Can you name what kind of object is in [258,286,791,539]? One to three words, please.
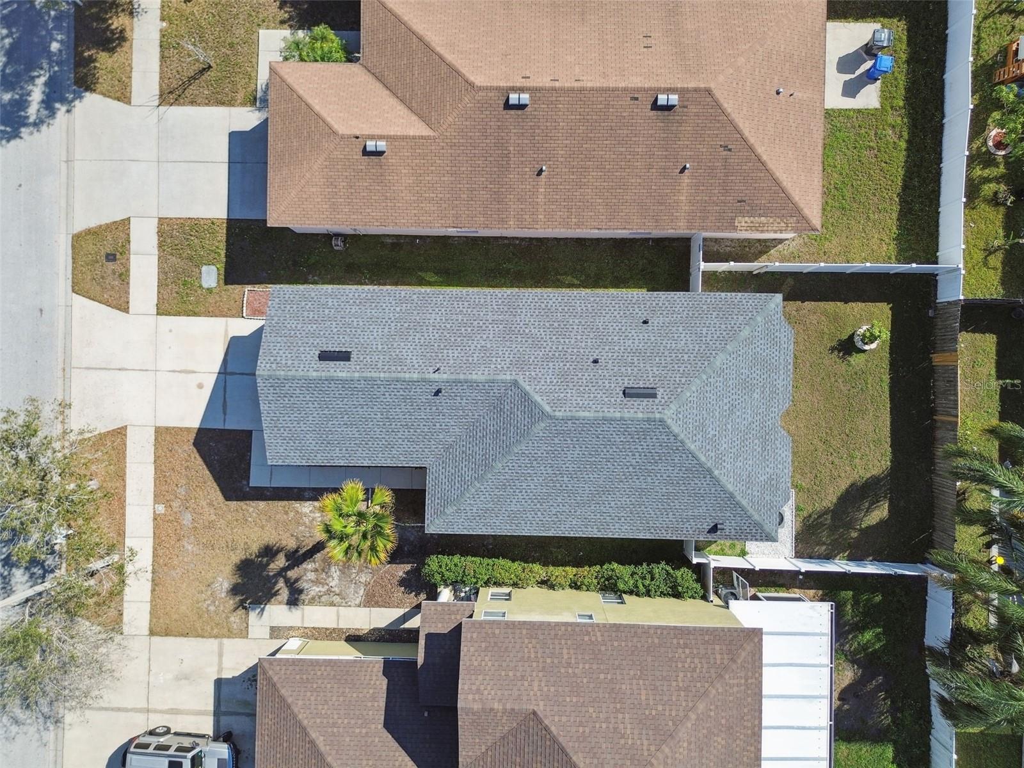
house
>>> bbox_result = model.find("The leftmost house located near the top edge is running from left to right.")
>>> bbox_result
[267,0,824,239]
